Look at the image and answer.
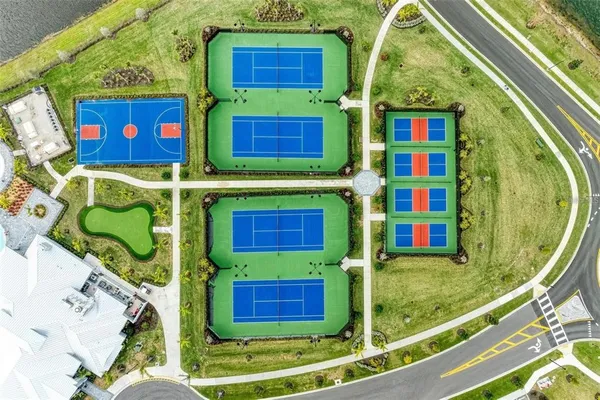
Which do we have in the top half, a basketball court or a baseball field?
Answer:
basketball court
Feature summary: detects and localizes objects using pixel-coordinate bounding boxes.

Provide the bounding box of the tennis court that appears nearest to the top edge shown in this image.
[209,33,347,102]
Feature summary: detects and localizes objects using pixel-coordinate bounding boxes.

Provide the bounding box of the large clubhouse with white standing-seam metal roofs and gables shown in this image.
[0,234,129,400]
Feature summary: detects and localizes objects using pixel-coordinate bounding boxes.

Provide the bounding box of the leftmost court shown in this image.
[76,98,185,165]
